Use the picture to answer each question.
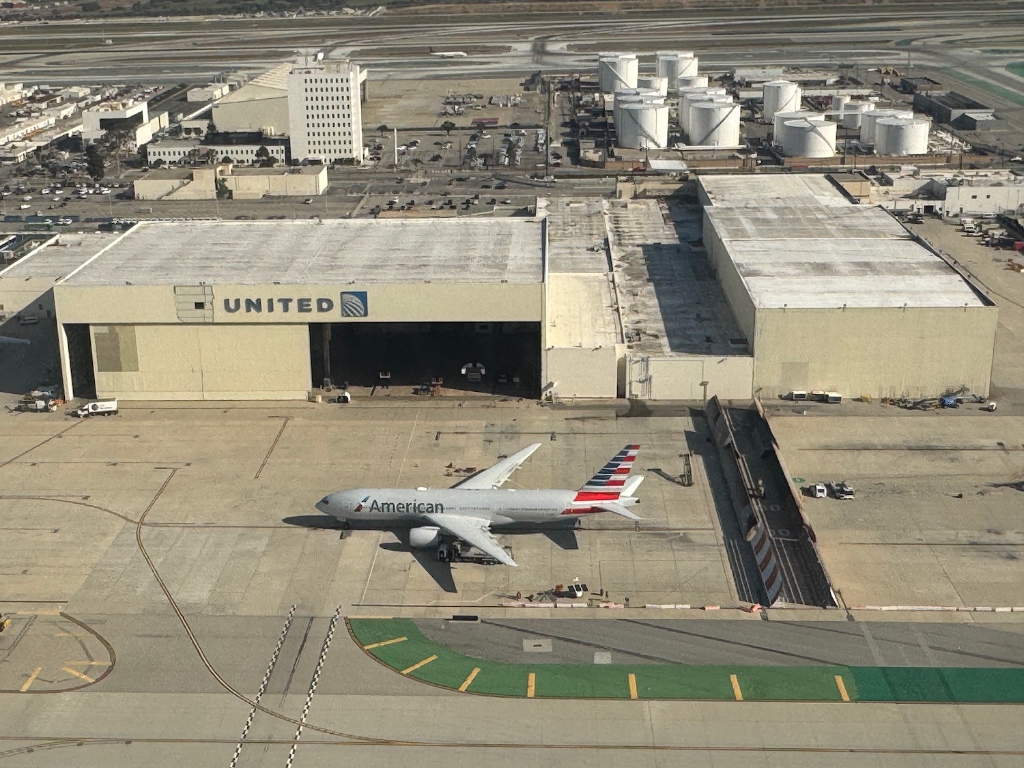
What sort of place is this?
airport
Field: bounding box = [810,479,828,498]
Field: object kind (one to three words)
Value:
work vehicle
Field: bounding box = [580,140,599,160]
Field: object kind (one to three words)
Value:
shed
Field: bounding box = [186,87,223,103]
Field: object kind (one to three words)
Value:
building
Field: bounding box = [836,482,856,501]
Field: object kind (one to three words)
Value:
vehicle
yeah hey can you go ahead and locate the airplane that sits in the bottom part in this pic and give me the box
[316,443,642,567]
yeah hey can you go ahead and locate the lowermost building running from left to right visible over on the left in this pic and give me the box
[52,220,551,400]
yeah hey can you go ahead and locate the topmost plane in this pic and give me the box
[427,45,466,58]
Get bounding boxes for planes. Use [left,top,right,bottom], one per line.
[316,443,642,567]
[427,45,466,58]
